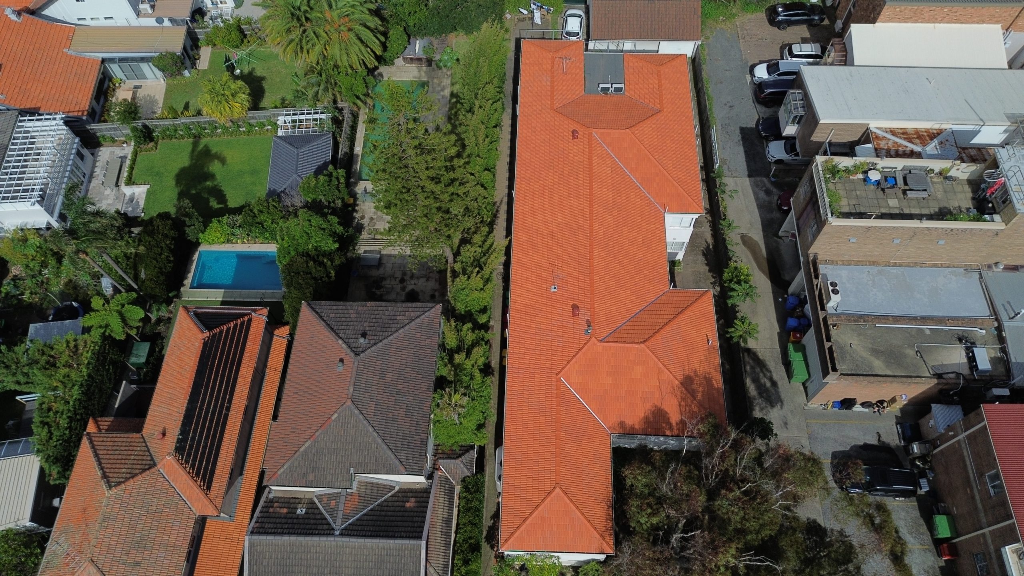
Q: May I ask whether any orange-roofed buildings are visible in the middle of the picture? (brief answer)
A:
Yes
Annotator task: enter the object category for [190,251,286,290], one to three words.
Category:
swimming pool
